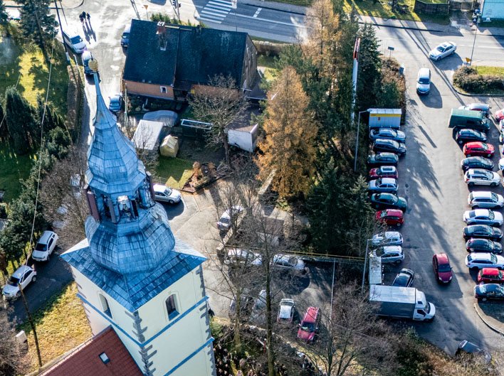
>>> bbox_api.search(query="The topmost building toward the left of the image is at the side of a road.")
[122,12,267,108]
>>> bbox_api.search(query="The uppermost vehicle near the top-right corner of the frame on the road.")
[426,41,459,60]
